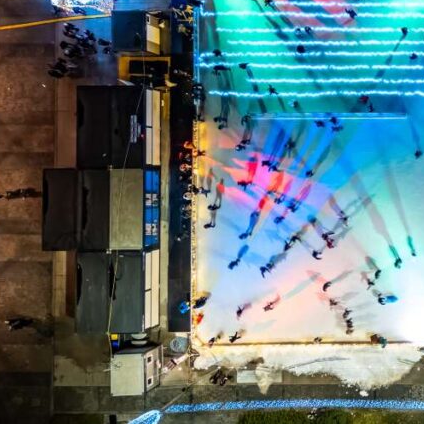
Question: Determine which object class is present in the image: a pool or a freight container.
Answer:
freight container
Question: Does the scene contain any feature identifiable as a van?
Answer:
No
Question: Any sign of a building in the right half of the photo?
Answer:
No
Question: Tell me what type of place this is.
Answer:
sports ground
